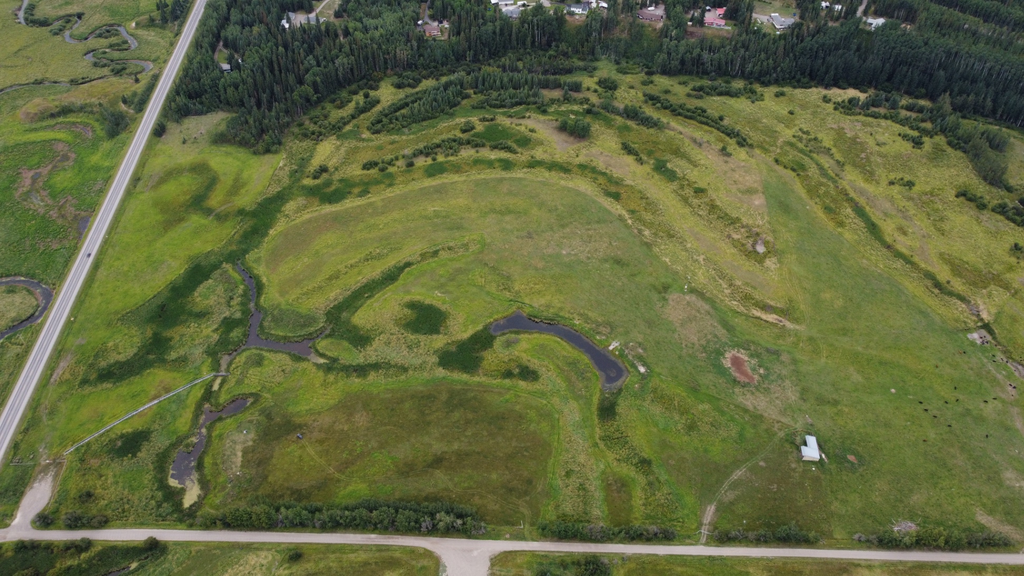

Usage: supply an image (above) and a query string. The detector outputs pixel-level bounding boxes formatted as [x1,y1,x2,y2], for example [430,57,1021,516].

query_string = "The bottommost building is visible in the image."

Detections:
[802,431,824,460]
